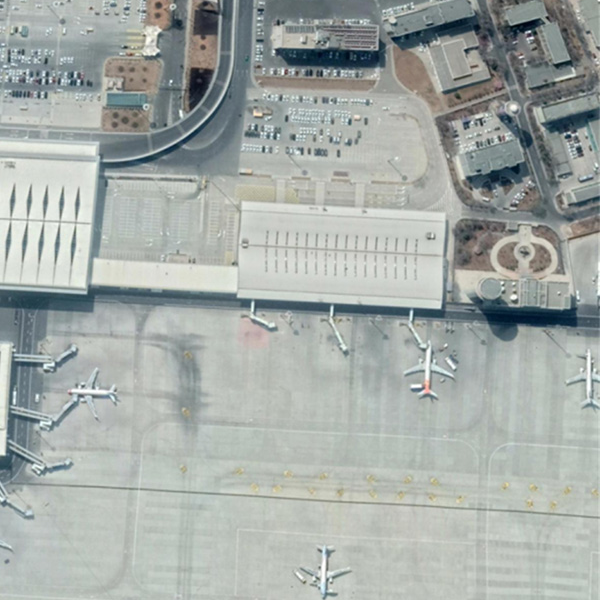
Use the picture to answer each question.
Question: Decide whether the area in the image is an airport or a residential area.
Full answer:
The picture captures an airport.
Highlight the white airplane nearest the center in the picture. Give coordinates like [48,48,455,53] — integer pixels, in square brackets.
[404,341,453,398]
